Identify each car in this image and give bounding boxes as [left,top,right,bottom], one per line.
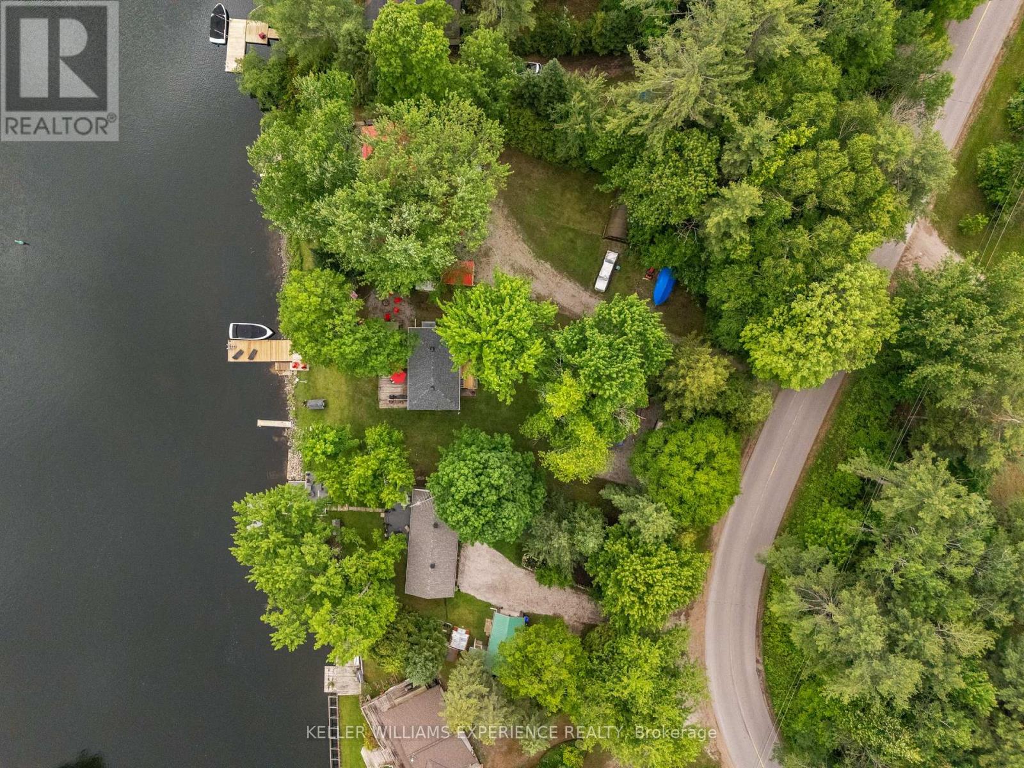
[510,58,545,78]
[596,250,618,294]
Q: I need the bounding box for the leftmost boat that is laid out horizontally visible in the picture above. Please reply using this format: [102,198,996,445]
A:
[230,323,276,340]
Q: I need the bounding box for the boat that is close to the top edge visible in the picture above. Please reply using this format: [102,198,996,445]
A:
[210,1,228,50]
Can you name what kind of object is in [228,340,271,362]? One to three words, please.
pier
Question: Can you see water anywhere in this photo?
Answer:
Yes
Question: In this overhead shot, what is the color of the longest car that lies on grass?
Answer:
white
